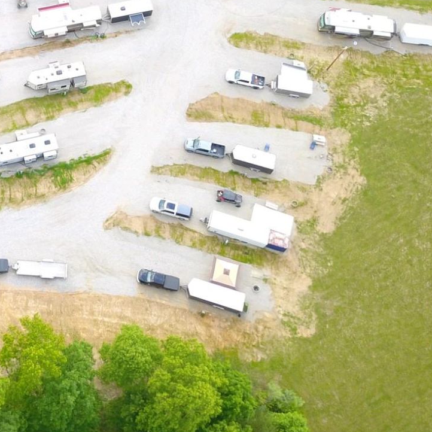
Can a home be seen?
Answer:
No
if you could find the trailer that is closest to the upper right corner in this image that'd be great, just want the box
[392,25,432,46]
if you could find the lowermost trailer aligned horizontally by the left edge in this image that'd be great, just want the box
[11,258,66,279]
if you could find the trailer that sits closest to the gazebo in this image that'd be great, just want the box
[180,278,246,313]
